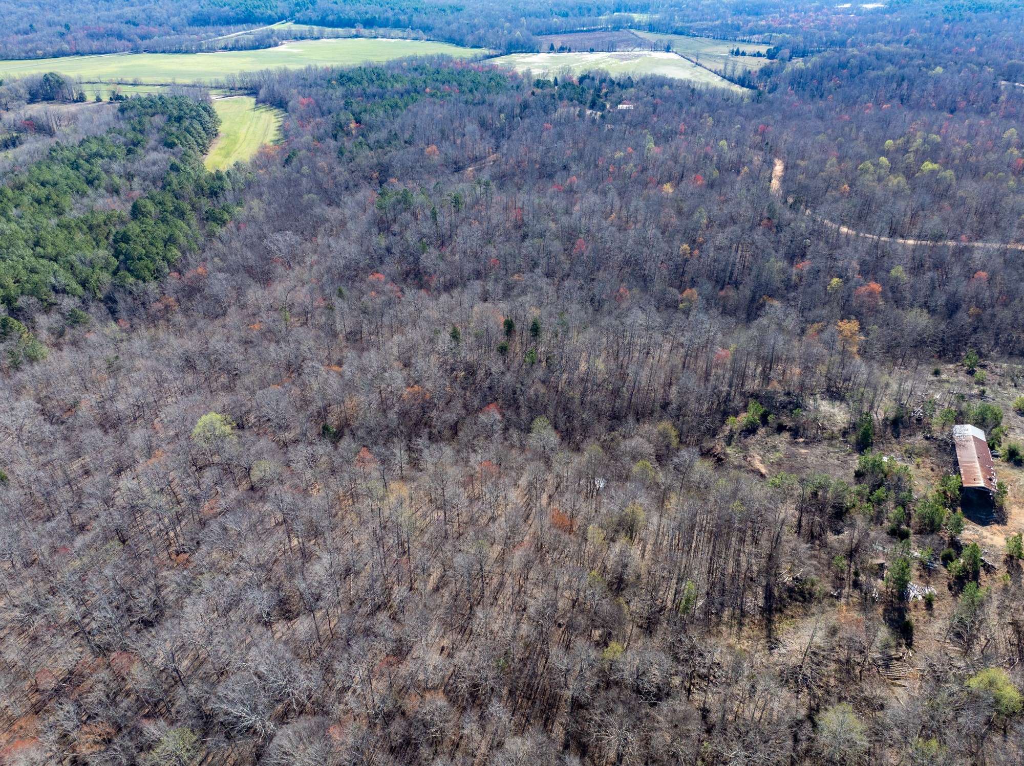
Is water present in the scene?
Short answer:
No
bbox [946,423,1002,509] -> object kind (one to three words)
barn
